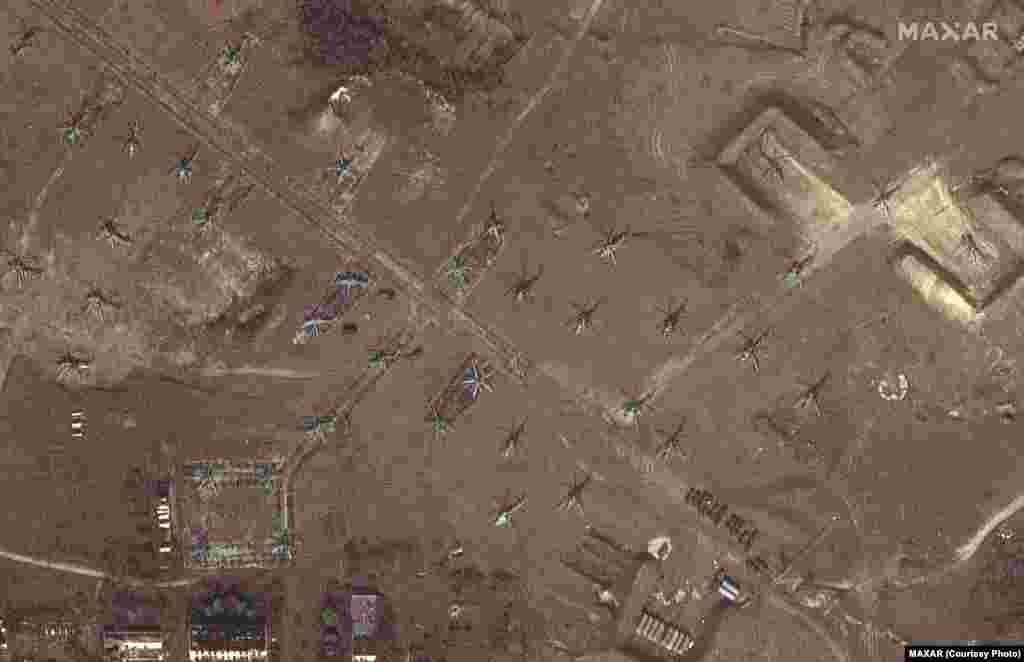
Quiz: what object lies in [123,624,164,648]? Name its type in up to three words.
building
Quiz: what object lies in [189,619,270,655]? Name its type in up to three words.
building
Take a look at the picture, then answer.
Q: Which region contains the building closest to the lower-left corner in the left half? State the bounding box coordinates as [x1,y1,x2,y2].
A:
[103,633,123,660]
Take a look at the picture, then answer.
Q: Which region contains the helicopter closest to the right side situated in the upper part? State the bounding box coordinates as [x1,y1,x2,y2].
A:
[958,228,988,261]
